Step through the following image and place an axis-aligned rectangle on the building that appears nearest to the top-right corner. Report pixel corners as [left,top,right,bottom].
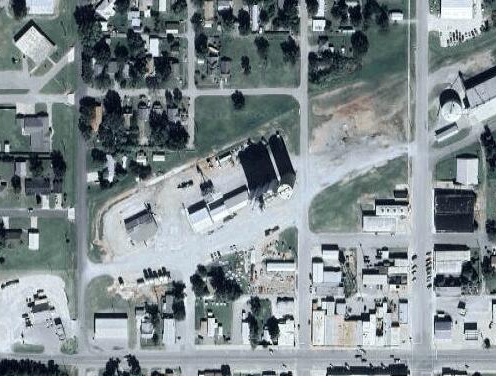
[441,0,474,19]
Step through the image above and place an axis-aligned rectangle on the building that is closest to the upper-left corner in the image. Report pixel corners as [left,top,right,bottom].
[25,0,53,14]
